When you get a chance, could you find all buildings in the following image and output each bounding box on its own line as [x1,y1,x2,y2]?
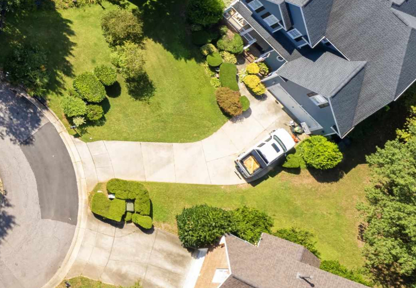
[223,0,416,139]
[194,233,370,288]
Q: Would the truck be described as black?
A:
No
